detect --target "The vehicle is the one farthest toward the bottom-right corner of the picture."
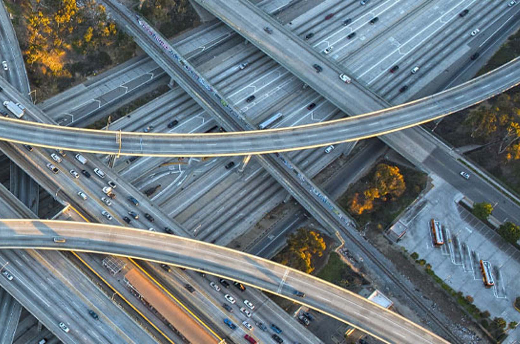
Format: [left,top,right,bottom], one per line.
[479,260,493,288]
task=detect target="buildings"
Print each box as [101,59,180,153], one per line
[386,220,407,244]
[367,290,394,309]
